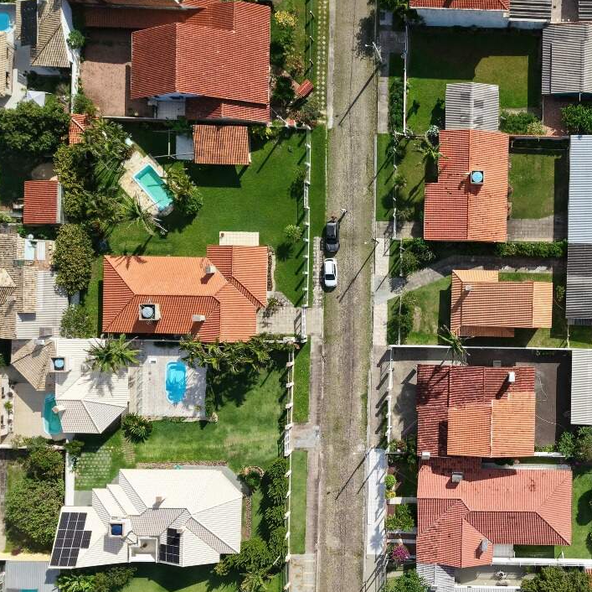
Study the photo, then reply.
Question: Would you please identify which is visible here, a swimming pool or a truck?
swimming pool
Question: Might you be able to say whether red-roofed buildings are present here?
Yes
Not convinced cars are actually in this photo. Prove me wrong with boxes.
[323,220,338,250]
[321,258,337,287]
